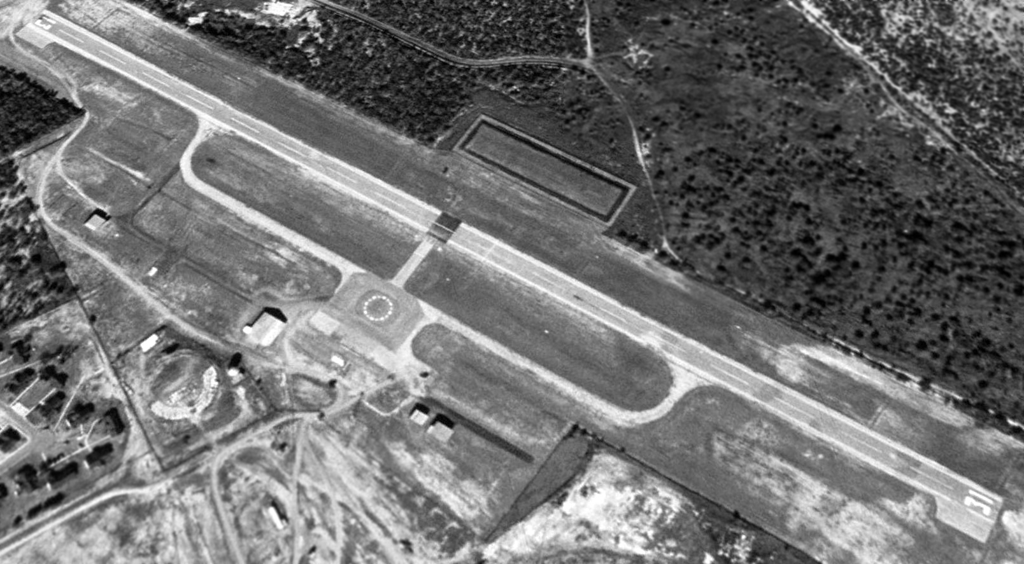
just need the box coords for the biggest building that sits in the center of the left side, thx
[248,312,286,349]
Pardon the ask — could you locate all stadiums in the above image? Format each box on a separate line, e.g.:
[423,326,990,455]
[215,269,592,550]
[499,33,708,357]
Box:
[152,357,218,421]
